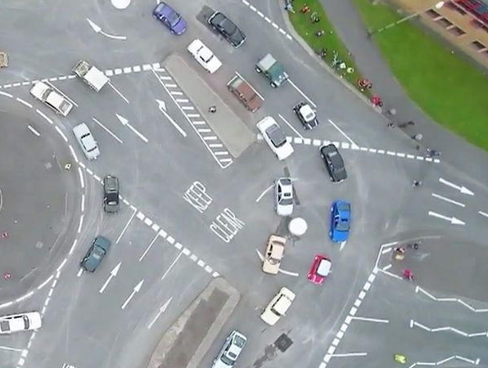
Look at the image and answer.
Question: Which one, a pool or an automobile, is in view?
automobile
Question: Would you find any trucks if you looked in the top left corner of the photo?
Yes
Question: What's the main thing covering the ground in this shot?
paved ground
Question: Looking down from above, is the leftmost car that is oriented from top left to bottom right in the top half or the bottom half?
top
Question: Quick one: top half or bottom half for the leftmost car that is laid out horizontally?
bottom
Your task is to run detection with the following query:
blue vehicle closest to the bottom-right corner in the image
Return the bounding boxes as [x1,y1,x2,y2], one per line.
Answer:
[326,199,351,244]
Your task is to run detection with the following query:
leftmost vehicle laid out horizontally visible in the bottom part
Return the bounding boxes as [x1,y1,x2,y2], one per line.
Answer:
[0,310,43,335]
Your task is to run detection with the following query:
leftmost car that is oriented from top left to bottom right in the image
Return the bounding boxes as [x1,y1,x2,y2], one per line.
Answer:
[29,80,74,117]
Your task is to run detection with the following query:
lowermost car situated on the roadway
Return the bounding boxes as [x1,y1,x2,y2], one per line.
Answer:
[209,329,247,368]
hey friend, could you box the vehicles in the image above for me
[205,8,247,48]
[253,115,293,161]
[79,235,109,275]
[251,49,291,90]
[0,310,43,335]
[101,175,120,214]
[326,199,351,244]
[258,285,295,327]
[151,0,189,38]
[223,71,264,113]
[259,233,285,275]
[209,329,247,368]
[29,80,74,117]
[304,252,331,286]
[73,121,99,161]
[273,176,296,216]
[318,141,346,185]
[69,57,114,93]
[288,98,320,133]
[183,38,223,74]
